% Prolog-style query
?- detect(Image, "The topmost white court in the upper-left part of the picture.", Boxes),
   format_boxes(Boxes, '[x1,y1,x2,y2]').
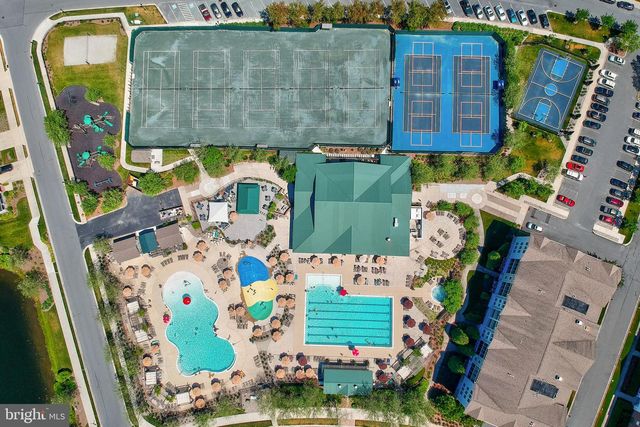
[64,29,117,66]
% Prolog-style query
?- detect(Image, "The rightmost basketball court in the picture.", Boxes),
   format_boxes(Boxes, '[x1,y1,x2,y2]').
[513,49,588,131]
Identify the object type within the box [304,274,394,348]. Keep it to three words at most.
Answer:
swimming pool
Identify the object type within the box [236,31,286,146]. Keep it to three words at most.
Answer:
tennis court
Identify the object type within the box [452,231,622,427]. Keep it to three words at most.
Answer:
building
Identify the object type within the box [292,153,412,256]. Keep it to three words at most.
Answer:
building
